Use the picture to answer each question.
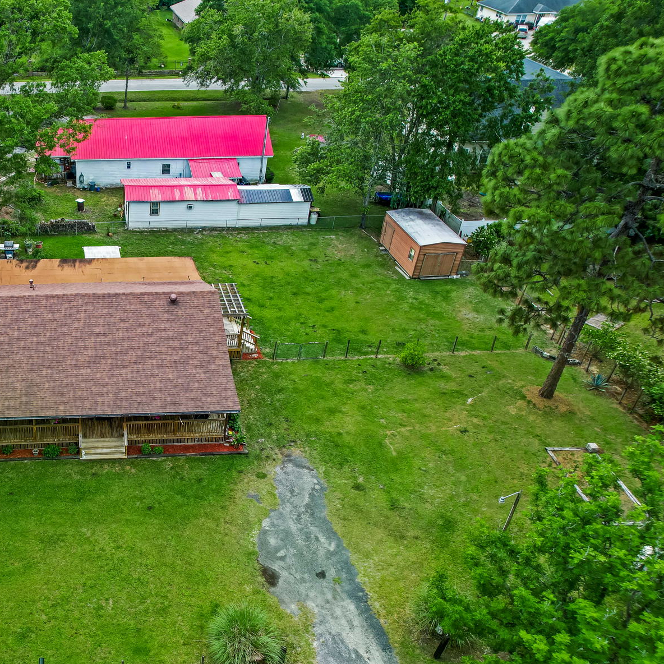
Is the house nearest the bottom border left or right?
left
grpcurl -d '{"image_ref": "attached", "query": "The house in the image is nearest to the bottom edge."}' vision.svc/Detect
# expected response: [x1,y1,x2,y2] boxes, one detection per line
[0,256,239,460]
